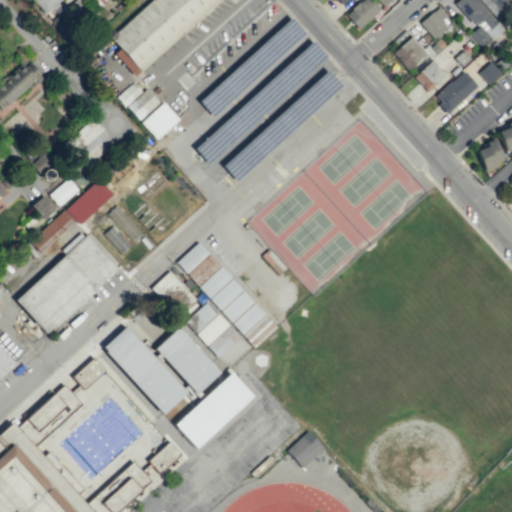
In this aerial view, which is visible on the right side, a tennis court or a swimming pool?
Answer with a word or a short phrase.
tennis court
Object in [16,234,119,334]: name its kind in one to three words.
building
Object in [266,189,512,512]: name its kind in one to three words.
sports field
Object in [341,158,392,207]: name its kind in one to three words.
tennis court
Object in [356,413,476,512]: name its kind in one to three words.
baseball field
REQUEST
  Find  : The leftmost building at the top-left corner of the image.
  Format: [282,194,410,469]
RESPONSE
[0,60,38,104]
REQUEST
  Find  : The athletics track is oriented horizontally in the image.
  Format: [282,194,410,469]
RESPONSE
[223,483,351,512]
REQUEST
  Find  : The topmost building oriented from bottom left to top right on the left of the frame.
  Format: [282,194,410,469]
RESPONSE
[113,0,223,71]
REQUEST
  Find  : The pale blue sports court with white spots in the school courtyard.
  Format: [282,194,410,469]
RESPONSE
[61,399,142,478]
